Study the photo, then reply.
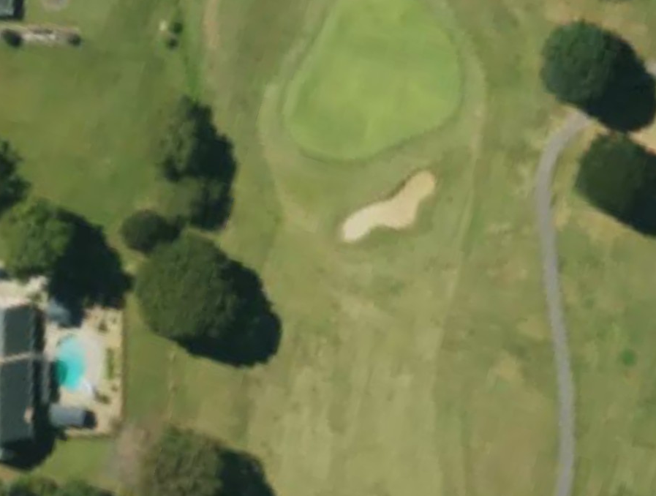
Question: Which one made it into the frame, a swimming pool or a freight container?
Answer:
swimming pool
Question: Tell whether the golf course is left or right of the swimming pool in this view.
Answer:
right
